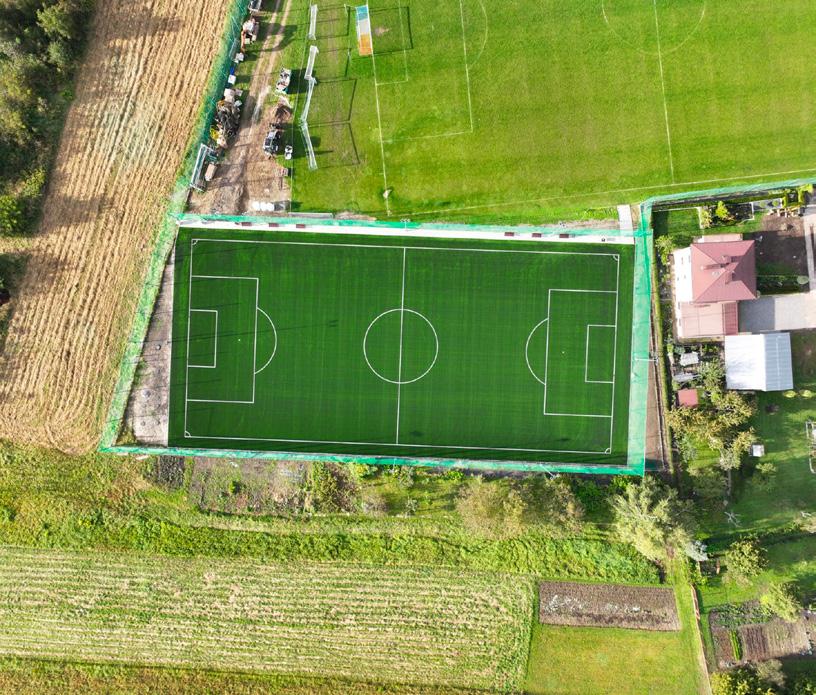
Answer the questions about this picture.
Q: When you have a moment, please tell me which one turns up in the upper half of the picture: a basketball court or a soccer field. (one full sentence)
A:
Looking in the upper half of the picture, you will find a soccer field.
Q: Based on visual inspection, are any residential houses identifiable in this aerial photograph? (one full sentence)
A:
Yes, the photo shows a residential house.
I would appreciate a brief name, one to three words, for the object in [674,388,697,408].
shed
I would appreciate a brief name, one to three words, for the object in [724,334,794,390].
shed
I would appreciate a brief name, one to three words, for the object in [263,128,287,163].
work vehicle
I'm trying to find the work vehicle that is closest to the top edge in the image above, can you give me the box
[242,18,258,56]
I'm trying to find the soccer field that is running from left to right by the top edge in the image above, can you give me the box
[288,0,816,224]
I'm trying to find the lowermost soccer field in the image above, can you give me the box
[168,229,635,465]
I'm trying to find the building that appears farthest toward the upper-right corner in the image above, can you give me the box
[673,234,758,337]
